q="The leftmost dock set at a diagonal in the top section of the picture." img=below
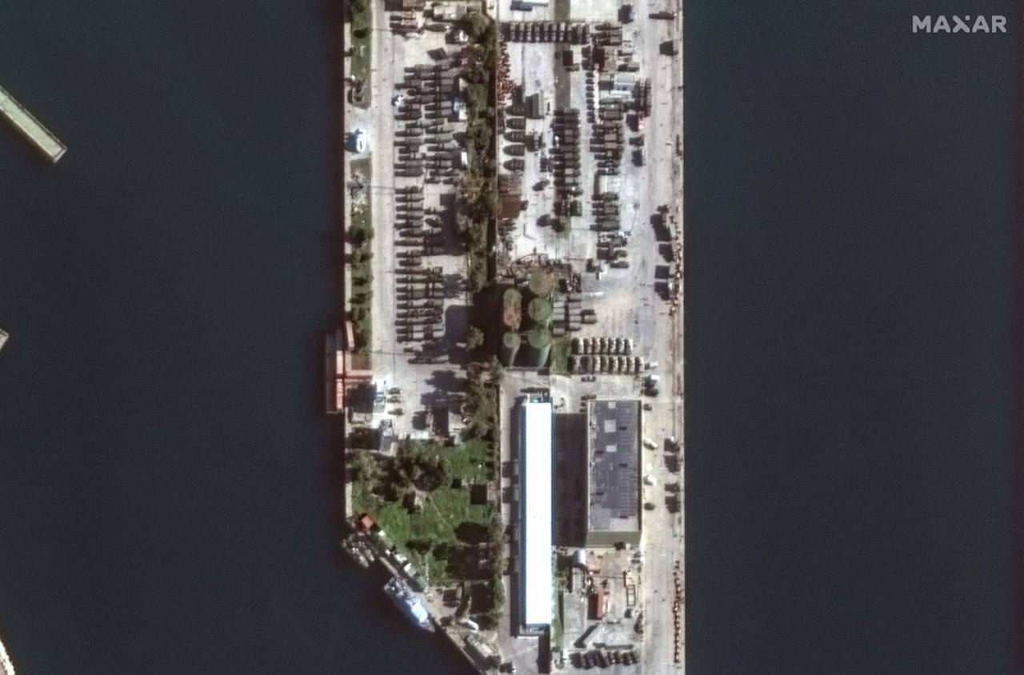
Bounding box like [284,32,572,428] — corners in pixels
[0,86,67,166]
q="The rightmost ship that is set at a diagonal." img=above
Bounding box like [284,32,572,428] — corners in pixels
[380,583,436,636]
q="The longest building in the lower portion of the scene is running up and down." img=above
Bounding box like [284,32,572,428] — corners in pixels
[518,393,554,635]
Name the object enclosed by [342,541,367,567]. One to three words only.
boat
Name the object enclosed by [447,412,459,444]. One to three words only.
shed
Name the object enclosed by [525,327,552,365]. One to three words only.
silo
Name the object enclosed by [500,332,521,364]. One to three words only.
silo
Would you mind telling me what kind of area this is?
port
